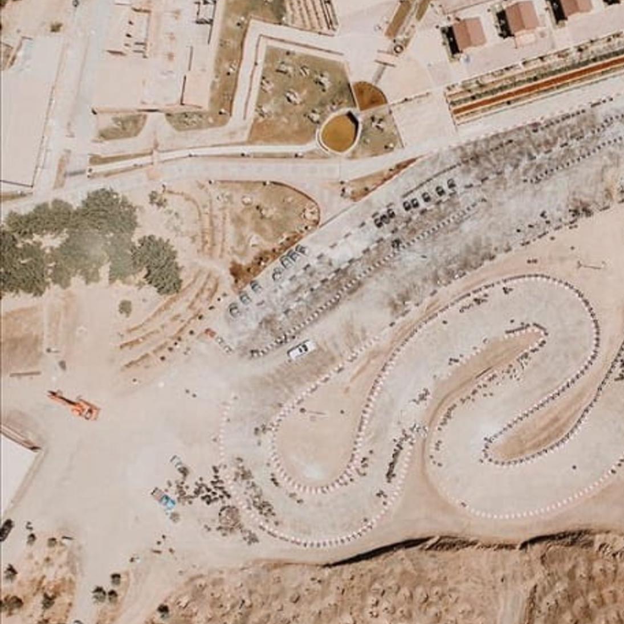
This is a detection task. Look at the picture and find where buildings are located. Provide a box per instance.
[0,35,63,187]
[505,0,541,41]
[0,427,46,526]
[452,16,487,59]
[92,0,227,115]
[563,0,595,24]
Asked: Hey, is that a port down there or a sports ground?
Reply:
sports ground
